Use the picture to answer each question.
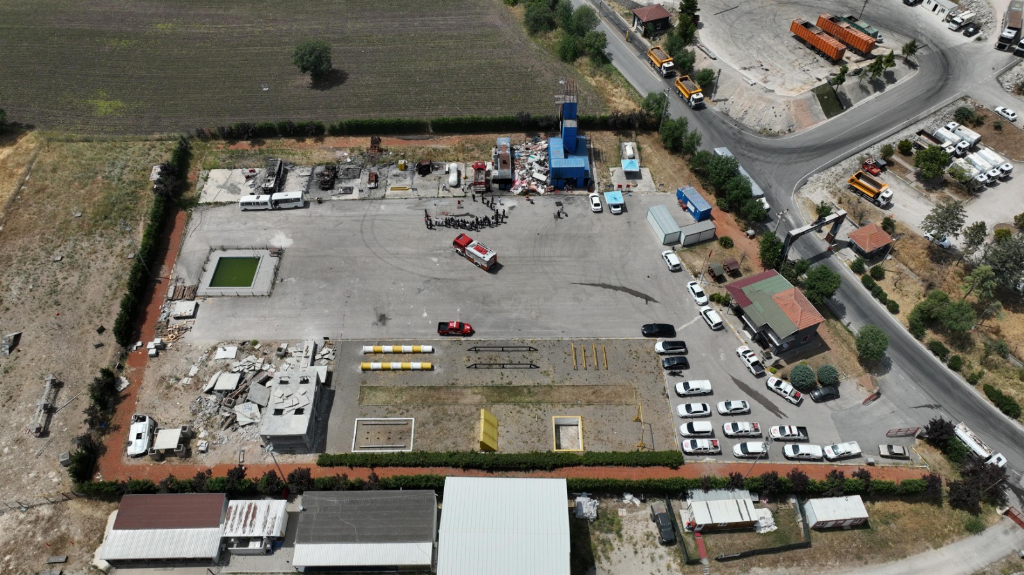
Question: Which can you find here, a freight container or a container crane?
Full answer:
I can see a freight container in this picture.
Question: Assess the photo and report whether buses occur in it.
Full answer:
Yes, a bus can be made out from above.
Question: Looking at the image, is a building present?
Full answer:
Yes, there's a building here.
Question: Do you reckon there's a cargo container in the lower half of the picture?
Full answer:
No, I see no cargo container in the lower half of the picture.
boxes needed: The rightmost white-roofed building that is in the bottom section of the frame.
[805,496,868,531]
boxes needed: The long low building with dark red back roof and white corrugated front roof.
[101,493,231,565]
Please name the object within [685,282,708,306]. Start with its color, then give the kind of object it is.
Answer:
white car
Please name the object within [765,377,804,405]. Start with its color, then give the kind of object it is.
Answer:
white truck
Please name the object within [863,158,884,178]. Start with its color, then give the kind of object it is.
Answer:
red work vehicle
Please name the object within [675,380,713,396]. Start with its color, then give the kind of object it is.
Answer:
white vehicle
